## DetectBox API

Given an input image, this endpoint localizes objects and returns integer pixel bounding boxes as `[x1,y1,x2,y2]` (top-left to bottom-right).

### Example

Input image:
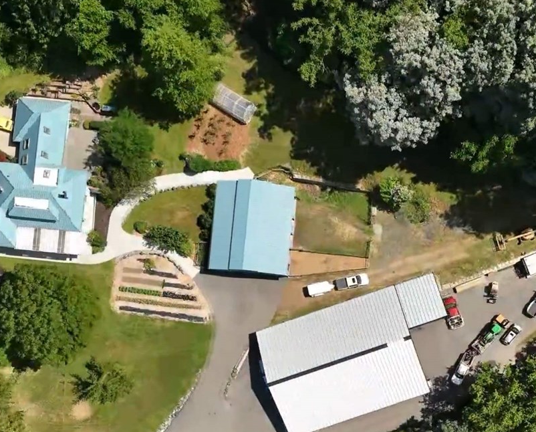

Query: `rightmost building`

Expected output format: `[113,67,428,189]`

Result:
[256,273,446,432]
